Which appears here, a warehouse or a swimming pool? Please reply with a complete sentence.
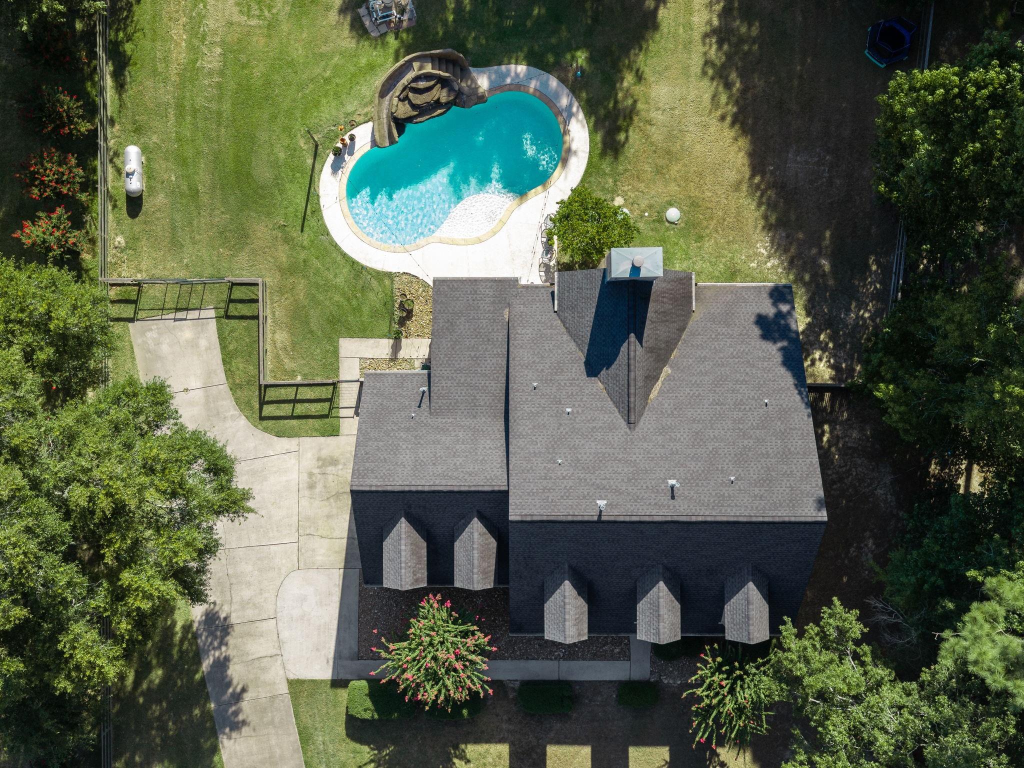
It is a swimming pool that can be seen here.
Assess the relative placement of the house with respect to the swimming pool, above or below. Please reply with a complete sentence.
The house is below the swimming pool.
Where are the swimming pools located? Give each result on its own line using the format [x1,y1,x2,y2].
[339,85,570,252]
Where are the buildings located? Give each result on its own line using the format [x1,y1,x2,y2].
[351,248,827,643]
